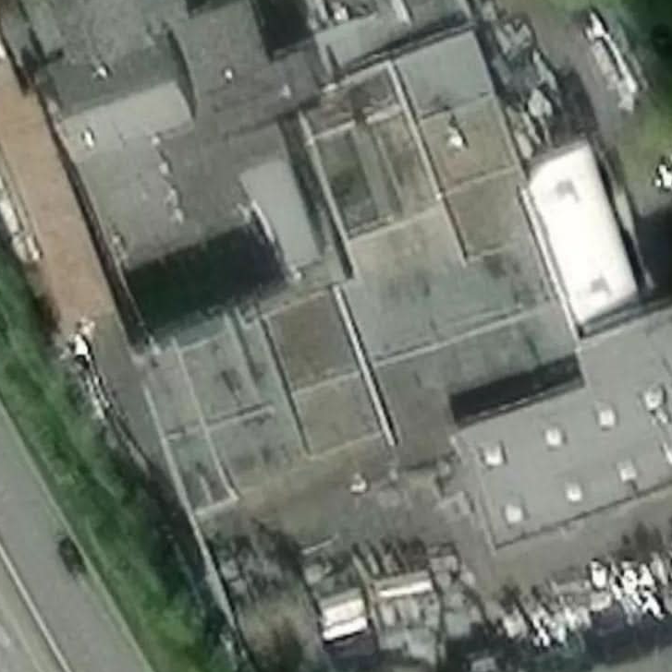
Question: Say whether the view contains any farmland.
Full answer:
No, there is no farmland in the image.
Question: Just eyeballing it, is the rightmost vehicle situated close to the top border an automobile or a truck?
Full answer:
From above, the rightmost vehicle situated close to the top border can be identified as a truck.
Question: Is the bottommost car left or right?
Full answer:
You can find the bottommost car on the left side of the picture.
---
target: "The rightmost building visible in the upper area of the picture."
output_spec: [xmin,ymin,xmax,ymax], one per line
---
[528,136,642,330]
